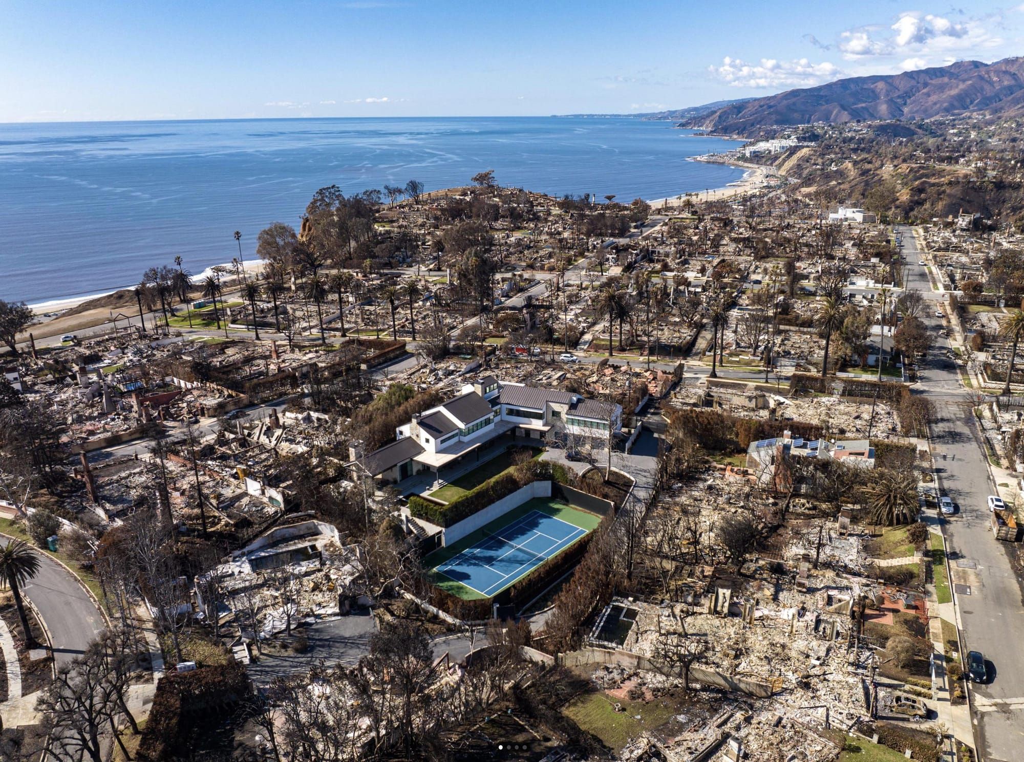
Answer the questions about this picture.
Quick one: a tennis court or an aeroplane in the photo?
tennis court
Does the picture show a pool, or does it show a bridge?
pool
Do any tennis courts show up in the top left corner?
No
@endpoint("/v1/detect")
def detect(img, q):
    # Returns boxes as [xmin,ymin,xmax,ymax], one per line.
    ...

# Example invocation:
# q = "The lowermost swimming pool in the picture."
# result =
[591,603,641,643]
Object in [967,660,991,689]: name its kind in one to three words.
car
